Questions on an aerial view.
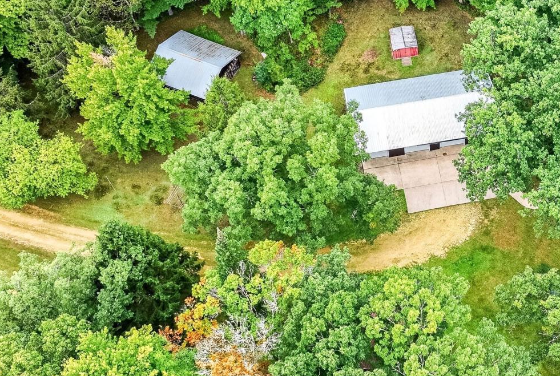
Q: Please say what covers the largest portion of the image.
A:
trees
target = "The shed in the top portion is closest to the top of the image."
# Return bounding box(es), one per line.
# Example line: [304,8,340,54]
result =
[388,22,419,59]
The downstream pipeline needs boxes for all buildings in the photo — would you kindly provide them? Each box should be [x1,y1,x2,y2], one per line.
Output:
[151,29,246,104]
[388,22,419,59]
[343,66,503,161]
